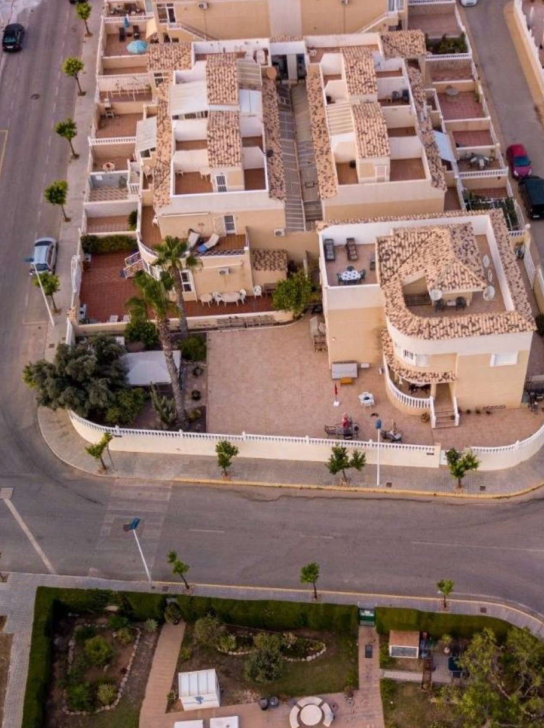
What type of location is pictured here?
residential area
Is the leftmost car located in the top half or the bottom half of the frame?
top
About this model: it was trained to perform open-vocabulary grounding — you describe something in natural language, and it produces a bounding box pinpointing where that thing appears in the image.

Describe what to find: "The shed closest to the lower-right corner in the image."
[390,632,419,653]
